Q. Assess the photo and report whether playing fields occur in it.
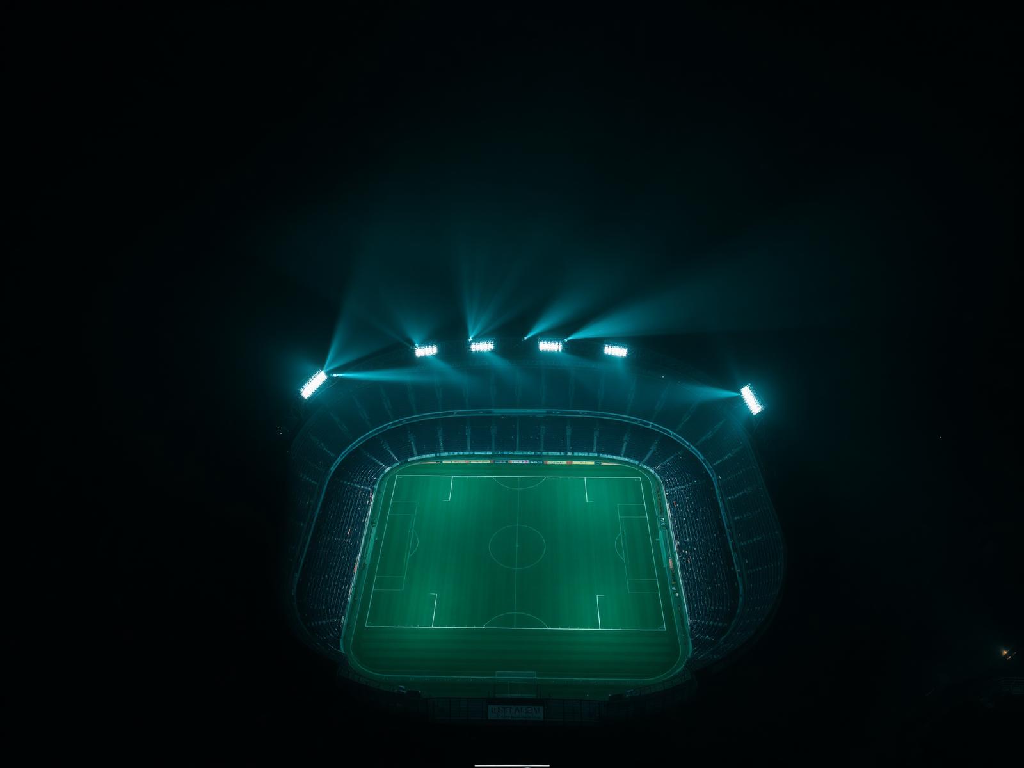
Yes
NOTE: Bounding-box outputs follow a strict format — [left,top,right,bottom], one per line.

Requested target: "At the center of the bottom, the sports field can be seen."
[351,462,681,681]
